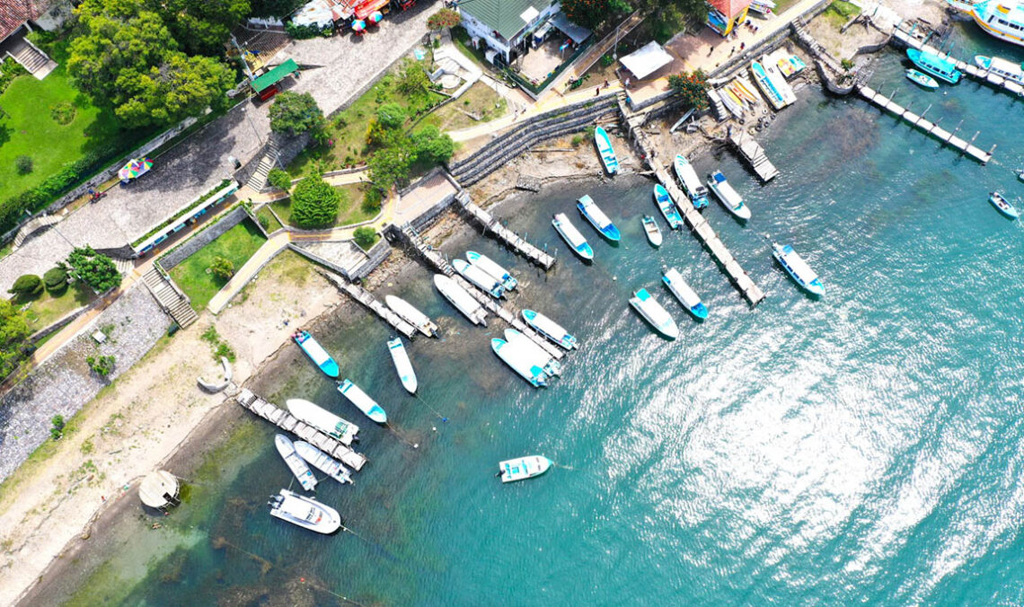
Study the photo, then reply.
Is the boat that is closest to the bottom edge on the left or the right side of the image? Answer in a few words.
left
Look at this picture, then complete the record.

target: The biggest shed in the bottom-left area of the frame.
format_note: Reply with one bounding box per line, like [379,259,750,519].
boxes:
[133,470,178,510]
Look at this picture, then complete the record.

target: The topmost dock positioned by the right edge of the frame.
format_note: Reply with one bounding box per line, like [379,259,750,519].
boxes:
[893,17,1024,100]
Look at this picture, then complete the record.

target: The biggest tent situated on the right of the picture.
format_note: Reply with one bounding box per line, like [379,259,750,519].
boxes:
[617,40,674,90]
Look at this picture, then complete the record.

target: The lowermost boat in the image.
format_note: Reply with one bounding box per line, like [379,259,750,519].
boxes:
[265,493,341,534]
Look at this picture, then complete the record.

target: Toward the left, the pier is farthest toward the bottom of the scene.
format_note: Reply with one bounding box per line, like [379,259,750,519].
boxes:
[237,390,369,475]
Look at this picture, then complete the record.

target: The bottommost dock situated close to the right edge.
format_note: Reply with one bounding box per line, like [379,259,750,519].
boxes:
[855,81,1002,166]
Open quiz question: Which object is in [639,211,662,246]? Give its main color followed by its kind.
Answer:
white boat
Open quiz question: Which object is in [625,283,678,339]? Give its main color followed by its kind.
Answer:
white boat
